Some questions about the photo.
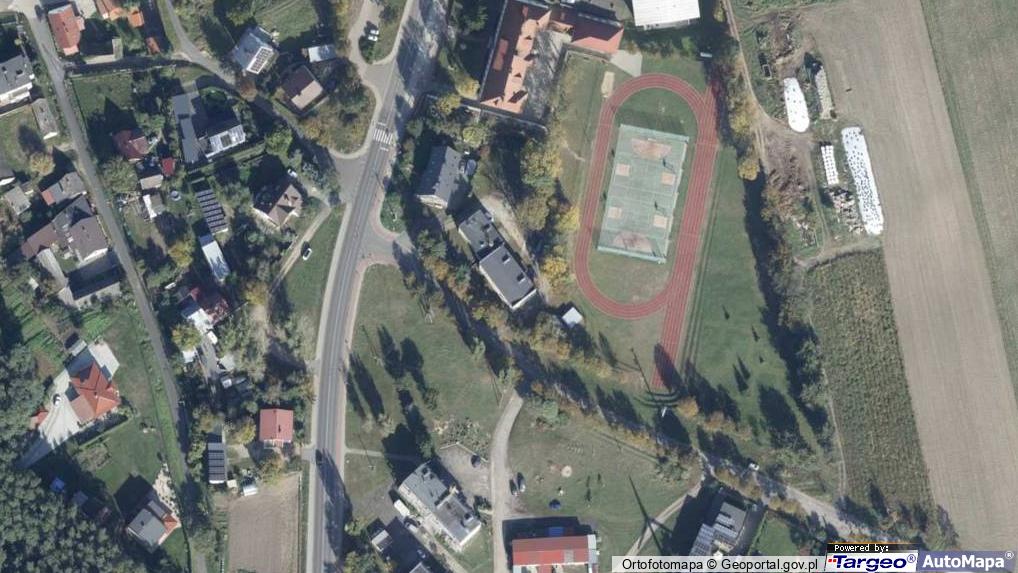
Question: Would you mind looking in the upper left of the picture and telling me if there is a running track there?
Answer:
No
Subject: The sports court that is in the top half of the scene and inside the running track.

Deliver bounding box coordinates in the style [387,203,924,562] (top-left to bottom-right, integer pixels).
[599,125,689,263]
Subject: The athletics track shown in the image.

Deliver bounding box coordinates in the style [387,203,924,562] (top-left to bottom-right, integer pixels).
[575,74,726,388]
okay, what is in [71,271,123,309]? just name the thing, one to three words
barn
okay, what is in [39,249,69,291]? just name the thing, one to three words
shed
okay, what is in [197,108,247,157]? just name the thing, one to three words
house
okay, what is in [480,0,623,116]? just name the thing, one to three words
building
